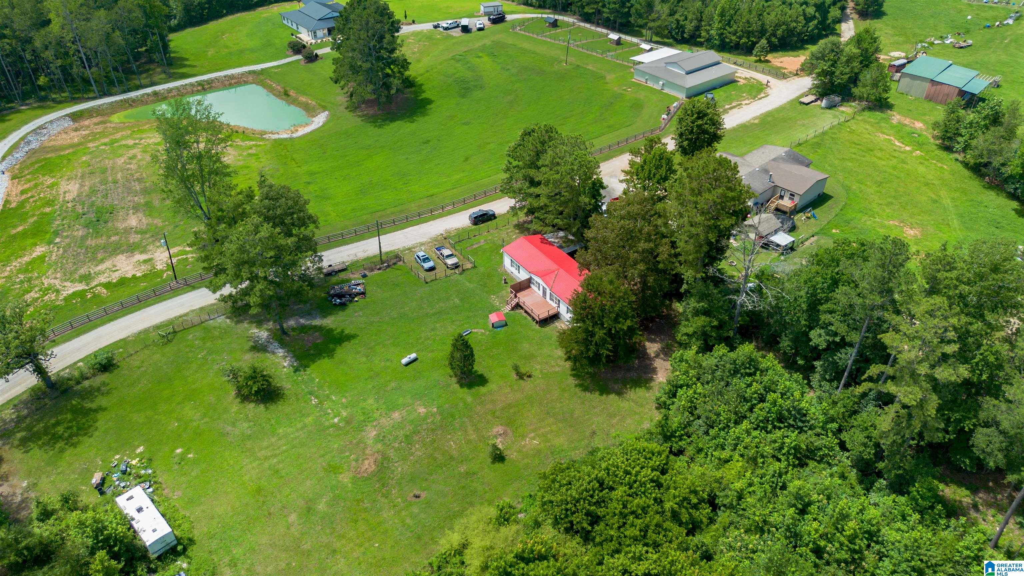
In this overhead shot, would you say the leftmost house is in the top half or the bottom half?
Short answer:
top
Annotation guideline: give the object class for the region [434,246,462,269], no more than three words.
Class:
truck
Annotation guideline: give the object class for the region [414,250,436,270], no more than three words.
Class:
car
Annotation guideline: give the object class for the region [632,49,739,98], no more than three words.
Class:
barn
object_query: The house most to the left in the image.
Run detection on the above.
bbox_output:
[279,0,366,39]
